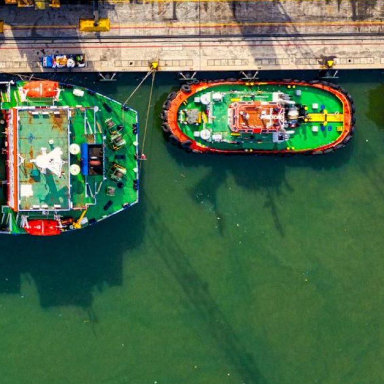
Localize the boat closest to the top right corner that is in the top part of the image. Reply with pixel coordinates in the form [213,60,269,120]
[155,77,356,156]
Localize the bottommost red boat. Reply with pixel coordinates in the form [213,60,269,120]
[24,218,61,236]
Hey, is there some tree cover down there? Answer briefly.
No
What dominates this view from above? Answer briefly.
water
